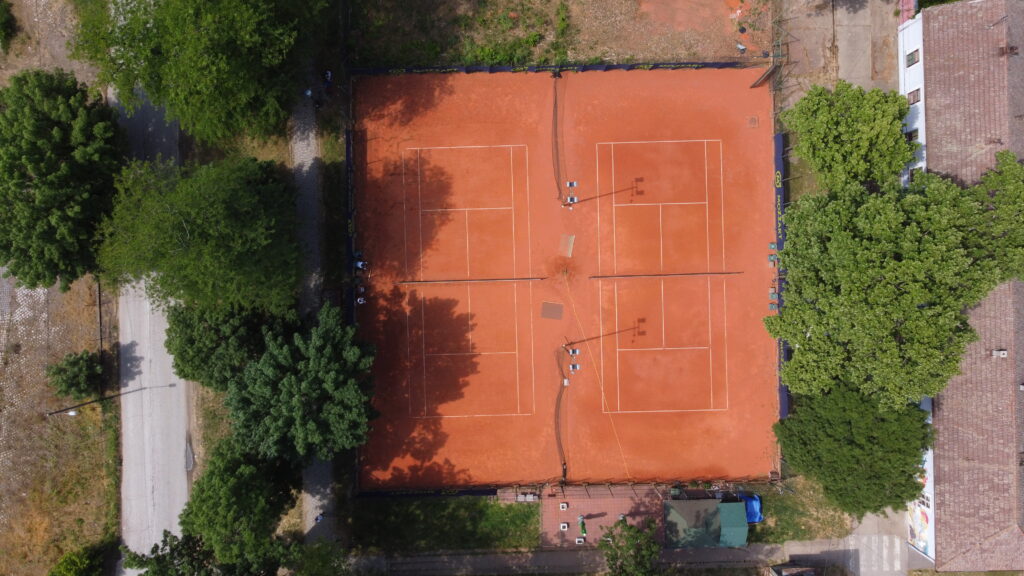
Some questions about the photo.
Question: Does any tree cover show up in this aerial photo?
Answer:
Yes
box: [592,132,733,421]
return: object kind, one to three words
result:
tennis court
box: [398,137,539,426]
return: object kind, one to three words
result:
tennis court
